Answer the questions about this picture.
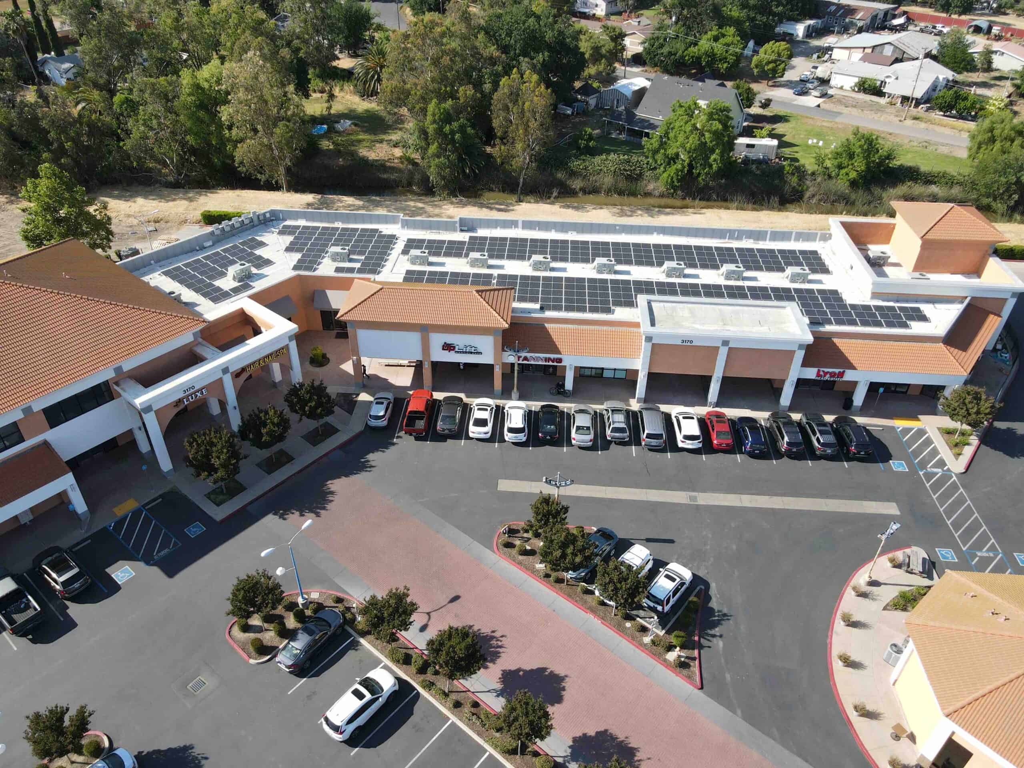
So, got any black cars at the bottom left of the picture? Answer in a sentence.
Yes, there is a black car at the bottom left of the picture.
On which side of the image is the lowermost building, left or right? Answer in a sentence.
The lowermost building sits on the right side.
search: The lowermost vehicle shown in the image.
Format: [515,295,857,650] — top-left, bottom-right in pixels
[74,741,137,768]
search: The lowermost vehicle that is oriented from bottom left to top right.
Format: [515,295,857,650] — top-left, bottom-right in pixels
[320,670,403,748]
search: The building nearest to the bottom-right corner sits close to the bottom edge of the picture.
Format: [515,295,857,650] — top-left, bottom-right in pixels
[884,570,1024,768]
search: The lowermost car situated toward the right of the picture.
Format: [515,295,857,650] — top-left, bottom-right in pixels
[641,561,701,623]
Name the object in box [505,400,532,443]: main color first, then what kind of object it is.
white car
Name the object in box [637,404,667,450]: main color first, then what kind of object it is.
gray car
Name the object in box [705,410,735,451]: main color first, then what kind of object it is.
red car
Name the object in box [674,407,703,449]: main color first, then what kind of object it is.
white car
